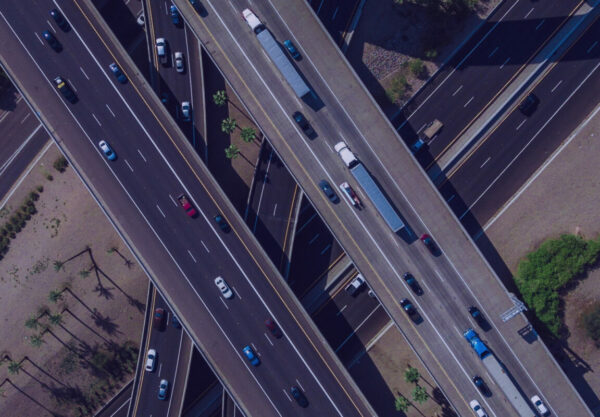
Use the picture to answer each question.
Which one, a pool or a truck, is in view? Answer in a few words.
truck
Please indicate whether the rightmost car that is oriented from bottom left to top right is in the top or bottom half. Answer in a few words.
top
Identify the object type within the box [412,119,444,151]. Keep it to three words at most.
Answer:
truck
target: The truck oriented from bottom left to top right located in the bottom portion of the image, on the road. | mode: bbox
[342,273,364,296]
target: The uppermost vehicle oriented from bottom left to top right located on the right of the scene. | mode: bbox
[517,93,537,113]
